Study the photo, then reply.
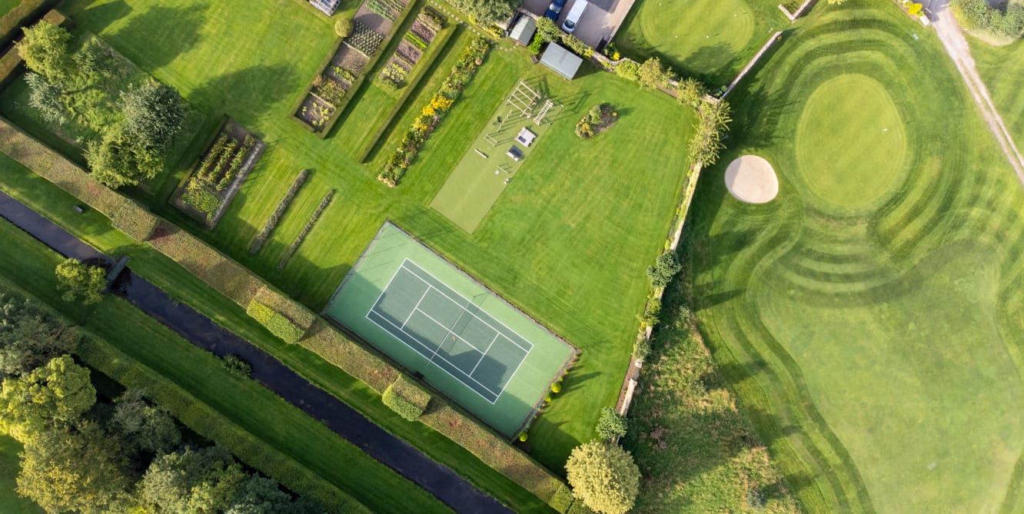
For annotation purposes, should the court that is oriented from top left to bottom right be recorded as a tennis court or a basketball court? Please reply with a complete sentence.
It turns out the court that is oriented from top left to bottom right is a tennis court.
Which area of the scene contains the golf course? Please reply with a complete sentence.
You can find the golf course in the right area of the picture.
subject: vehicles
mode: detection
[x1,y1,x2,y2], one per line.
[548,0,570,20]
[563,0,591,31]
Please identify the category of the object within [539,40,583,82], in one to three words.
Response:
shed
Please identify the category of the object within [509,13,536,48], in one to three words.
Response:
shed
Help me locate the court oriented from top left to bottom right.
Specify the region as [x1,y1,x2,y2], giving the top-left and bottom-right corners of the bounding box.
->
[324,221,577,440]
